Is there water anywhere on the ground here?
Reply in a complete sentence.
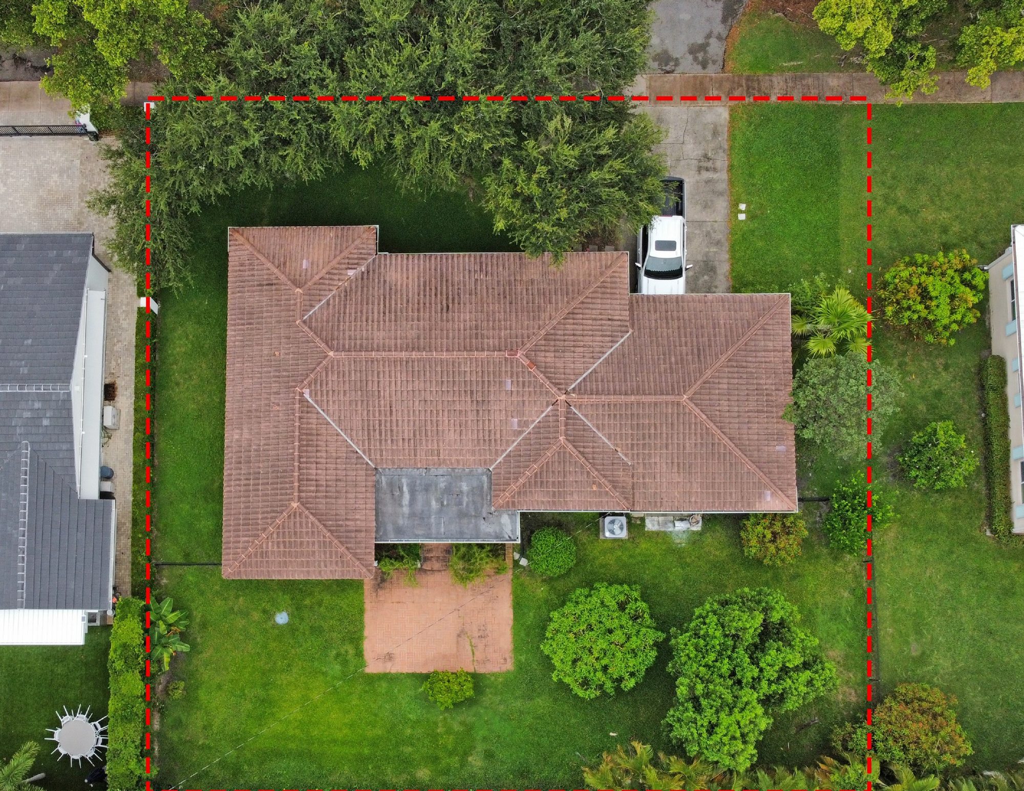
No, the scene doesn't show any water.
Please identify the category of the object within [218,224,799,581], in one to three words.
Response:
house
